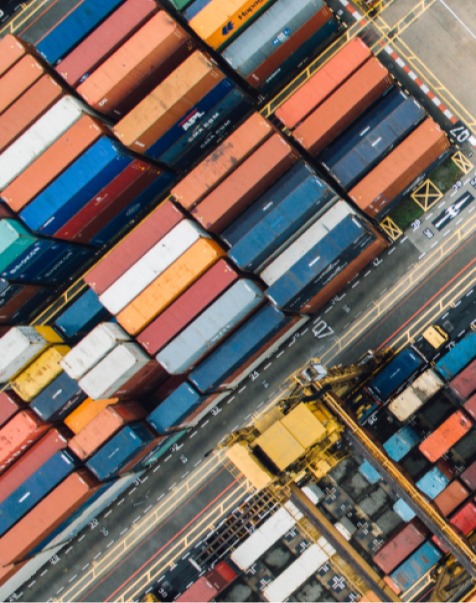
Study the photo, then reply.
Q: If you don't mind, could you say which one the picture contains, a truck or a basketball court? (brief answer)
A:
truck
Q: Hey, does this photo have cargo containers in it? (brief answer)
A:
Yes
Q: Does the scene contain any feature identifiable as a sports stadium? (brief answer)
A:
No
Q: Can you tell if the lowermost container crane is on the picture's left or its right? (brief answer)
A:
right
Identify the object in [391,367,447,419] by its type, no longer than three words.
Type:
shipping container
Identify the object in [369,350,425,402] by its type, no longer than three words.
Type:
shipping container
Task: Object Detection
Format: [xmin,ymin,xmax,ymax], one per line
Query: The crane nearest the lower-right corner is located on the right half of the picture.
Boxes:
[207,344,476,603]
